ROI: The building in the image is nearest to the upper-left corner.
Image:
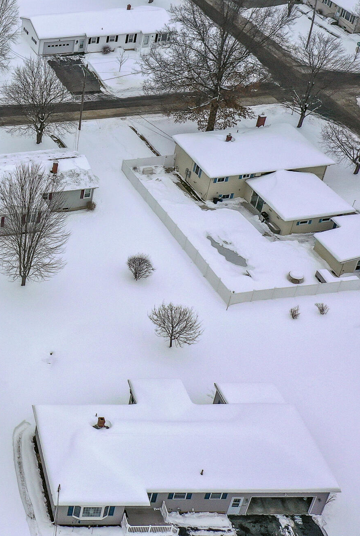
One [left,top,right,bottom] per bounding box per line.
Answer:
[19,4,179,56]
